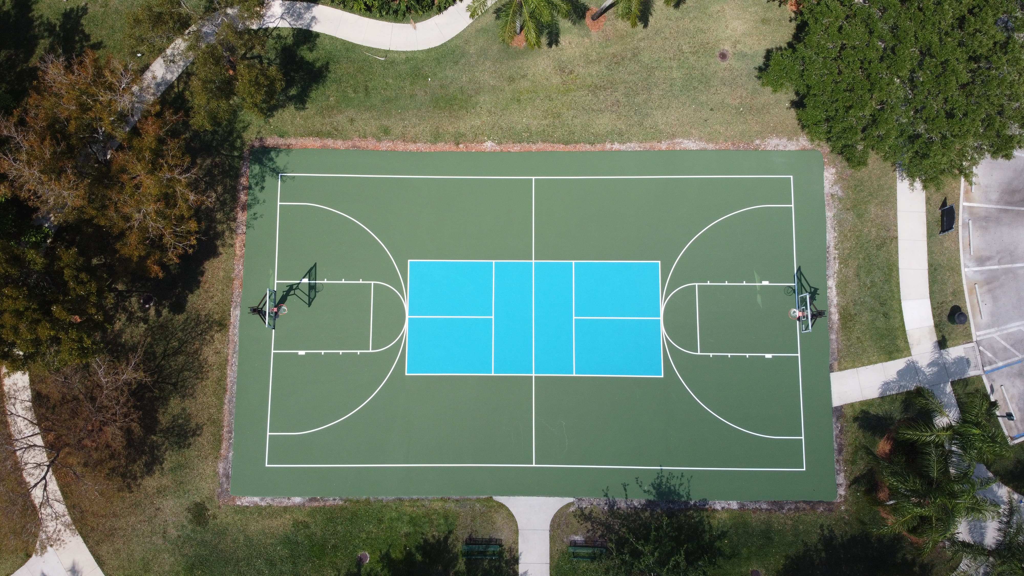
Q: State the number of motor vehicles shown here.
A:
0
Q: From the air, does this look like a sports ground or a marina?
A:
sports ground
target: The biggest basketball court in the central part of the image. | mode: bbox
[230,148,838,502]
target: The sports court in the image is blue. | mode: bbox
[406,260,663,377]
